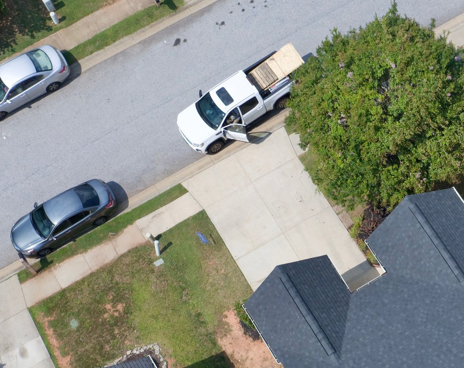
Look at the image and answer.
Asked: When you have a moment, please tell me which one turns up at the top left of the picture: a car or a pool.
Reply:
car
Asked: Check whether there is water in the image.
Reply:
No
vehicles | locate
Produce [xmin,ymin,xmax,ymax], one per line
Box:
[0,38,73,121]
[6,168,121,259]
[174,46,305,154]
